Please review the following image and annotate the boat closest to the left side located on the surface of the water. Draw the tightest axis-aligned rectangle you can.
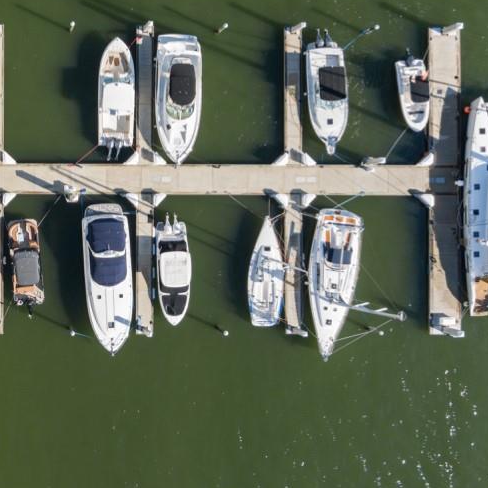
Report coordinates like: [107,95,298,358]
[9,218,43,320]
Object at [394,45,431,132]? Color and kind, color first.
white boat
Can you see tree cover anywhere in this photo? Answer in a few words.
No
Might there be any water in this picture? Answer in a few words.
Yes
